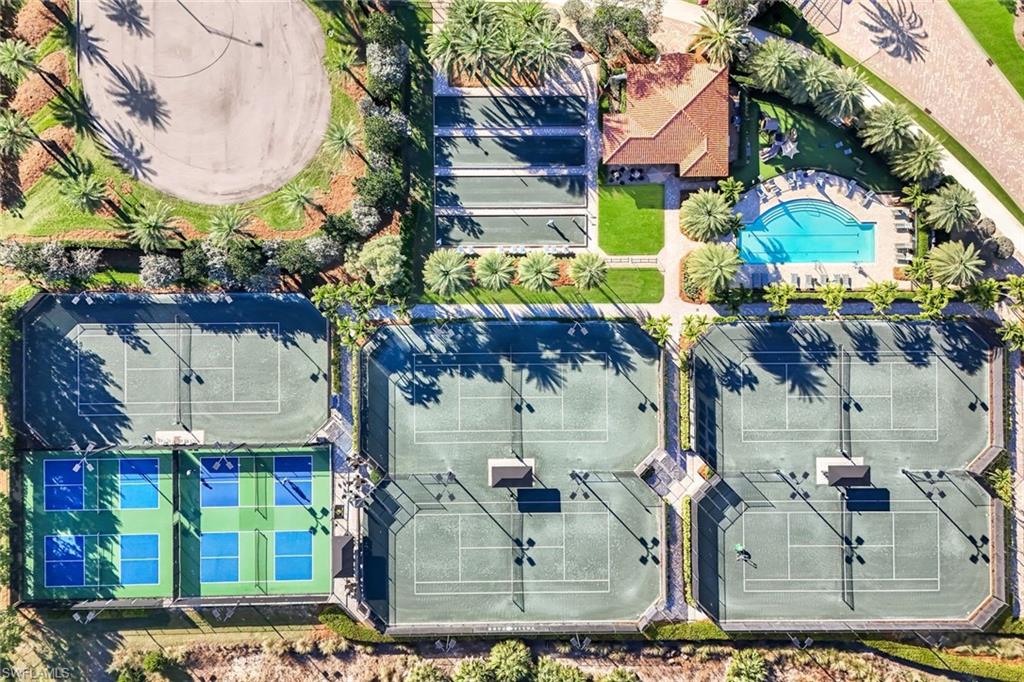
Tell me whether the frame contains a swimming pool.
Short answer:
Yes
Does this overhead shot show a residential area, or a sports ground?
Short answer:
sports ground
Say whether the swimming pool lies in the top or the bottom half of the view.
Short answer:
top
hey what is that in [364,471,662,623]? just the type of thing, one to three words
tennis court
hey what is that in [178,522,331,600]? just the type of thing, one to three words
sports court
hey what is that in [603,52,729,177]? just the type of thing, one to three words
building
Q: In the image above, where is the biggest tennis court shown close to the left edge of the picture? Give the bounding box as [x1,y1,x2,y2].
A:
[23,293,326,446]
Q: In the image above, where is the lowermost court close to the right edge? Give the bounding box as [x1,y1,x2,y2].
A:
[701,471,990,622]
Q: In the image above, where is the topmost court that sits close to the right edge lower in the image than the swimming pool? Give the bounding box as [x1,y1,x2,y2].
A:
[697,324,990,478]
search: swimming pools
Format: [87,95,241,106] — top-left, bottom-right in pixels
[738,198,877,265]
